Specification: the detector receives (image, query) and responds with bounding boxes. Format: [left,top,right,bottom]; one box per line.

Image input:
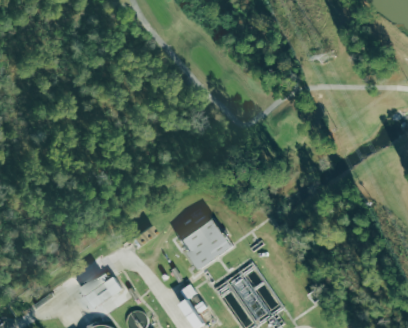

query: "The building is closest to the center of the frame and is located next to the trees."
[170,201,231,268]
